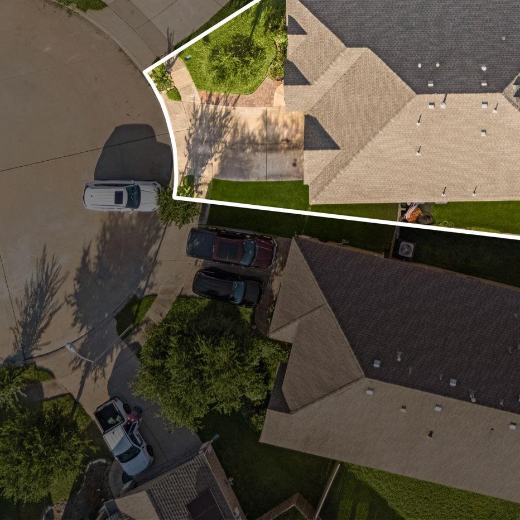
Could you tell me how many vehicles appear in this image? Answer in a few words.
four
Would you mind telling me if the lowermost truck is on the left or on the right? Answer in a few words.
left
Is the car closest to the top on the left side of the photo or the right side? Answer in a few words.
left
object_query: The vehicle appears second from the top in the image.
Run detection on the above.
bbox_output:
[184,227,278,270]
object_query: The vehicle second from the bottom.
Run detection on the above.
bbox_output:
[191,264,264,307]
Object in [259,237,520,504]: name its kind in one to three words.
house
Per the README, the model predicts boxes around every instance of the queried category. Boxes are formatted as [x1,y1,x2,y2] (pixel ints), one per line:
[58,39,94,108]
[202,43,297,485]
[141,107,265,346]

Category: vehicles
[90,389,158,478]
[83,179,162,214]
[191,264,264,307]
[184,227,278,270]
